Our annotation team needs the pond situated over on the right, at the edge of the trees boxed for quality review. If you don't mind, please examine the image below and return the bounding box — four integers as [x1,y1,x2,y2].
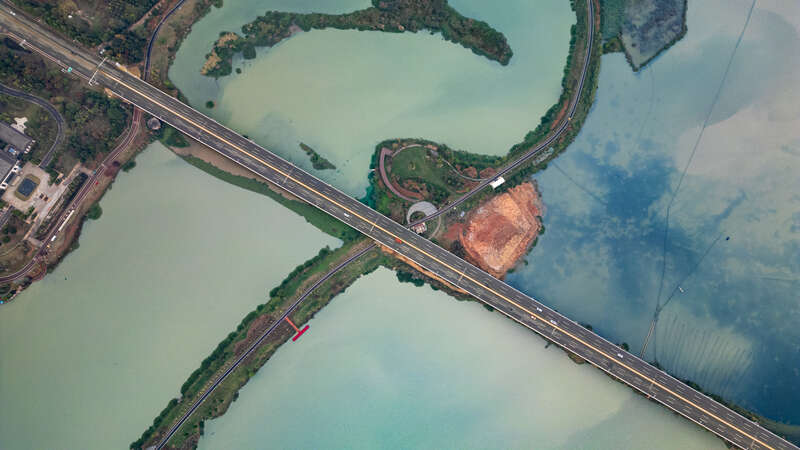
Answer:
[600,0,686,68]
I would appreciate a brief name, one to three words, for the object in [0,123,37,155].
building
